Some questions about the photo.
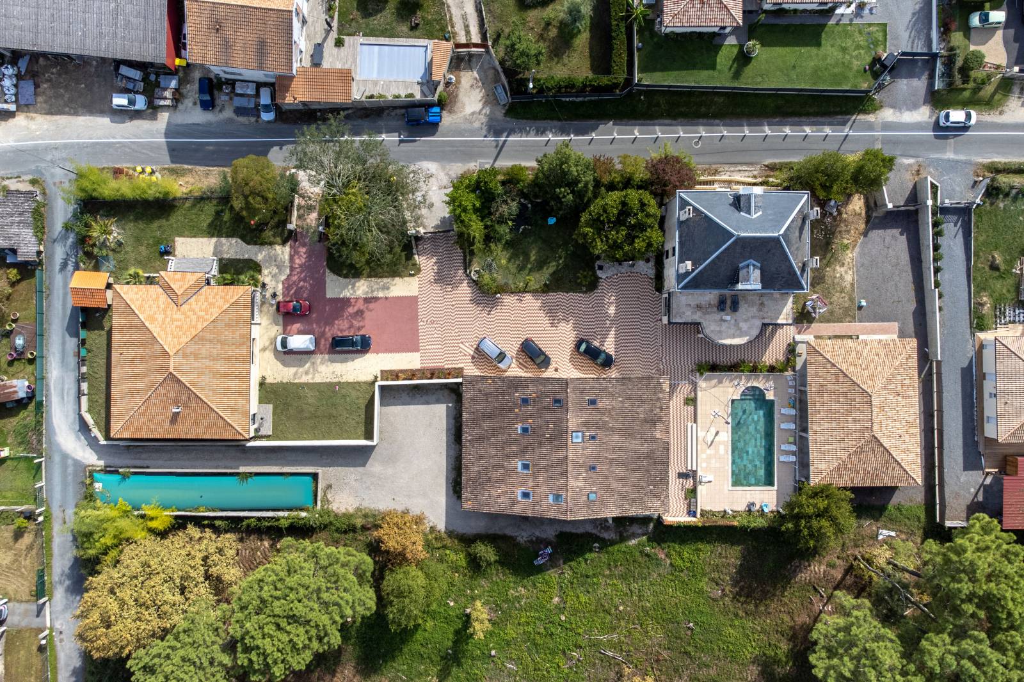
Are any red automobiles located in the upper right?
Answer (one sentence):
No, I see no red automobile in the upper right.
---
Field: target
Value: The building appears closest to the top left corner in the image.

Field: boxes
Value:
[0,0,182,73]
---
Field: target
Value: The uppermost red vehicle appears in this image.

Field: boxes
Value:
[276,298,312,317]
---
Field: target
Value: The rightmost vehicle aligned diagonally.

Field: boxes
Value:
[574,337,614,369]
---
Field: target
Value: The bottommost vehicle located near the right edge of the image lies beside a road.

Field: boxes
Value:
[936,109,976,128]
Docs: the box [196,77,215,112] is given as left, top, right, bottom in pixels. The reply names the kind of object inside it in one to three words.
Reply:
car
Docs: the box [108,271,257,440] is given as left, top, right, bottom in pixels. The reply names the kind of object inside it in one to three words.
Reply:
house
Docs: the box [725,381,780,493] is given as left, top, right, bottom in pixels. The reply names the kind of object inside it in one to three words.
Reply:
swimming pool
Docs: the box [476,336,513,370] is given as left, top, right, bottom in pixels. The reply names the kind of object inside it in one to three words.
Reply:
car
